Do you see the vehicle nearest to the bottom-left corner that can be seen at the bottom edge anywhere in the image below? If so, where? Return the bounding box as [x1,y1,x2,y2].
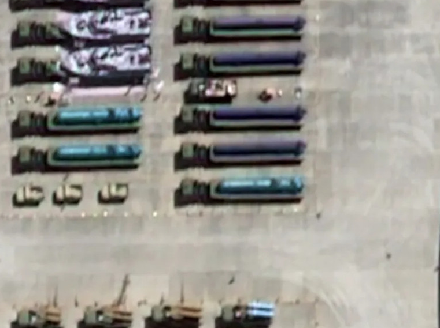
[15,300,66,328]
